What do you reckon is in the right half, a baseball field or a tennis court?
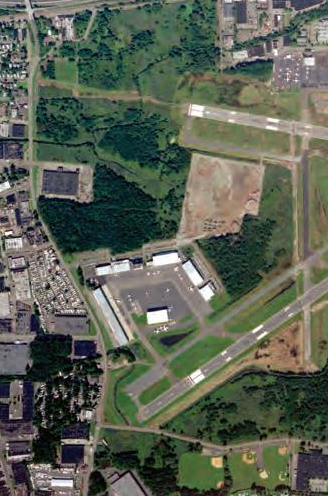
baseball field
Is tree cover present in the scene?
Yes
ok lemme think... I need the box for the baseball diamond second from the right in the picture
[231,449,268,492]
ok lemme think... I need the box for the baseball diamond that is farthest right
[264,445,289,486]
